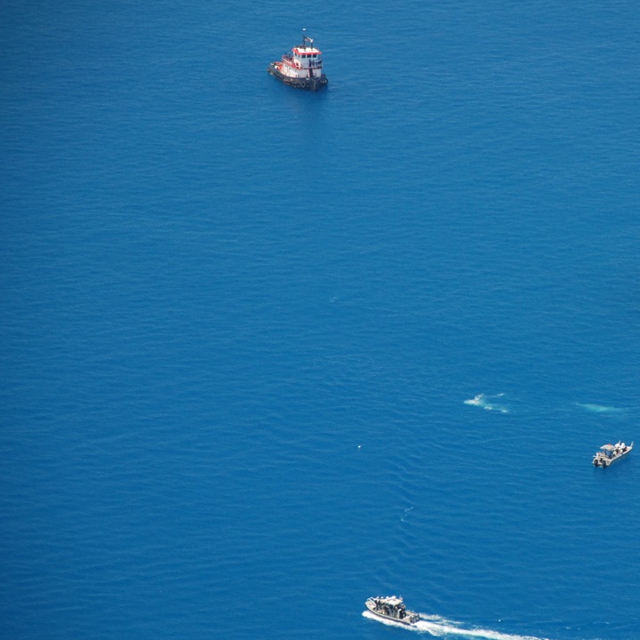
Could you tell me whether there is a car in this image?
No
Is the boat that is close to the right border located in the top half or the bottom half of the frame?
bottom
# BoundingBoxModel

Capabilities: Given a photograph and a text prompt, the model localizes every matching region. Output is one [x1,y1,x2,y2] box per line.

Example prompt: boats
[363,594,420,623]
[592,440,632,468]
[271,37,328,89]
